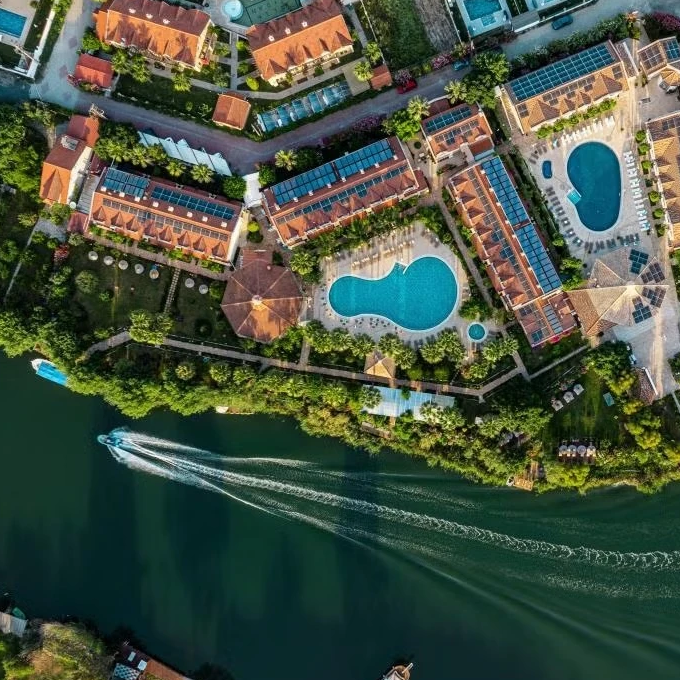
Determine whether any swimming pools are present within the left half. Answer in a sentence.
Yes, a swimming pool shows up within the left half.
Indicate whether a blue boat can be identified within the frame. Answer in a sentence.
Yes, the frame does contain a blue boat.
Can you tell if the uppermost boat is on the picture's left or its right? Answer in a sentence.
You can find the uppermost boat on the left side of the picture.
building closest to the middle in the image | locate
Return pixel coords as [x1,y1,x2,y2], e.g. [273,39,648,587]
[364,352,396,379]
